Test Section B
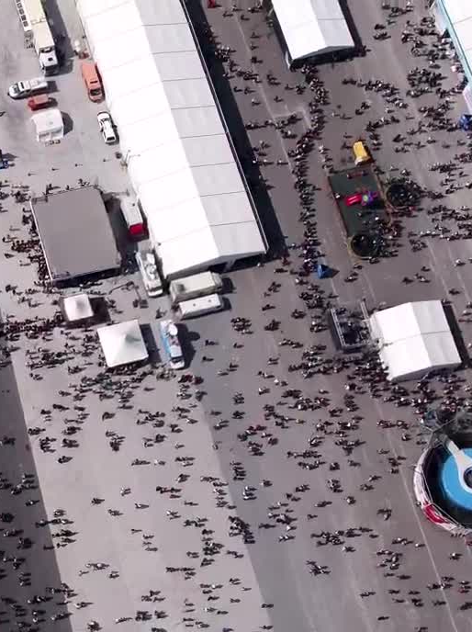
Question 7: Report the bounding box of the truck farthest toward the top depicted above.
[13,0,60,80]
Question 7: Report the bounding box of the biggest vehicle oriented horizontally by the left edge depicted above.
[10,80,48,100]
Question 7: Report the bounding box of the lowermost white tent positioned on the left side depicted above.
[95,321,148,372]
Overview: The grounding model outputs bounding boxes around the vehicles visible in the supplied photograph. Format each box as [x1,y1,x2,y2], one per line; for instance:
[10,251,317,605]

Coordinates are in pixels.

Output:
[156,321,185,372]
[83,64,105,105]
[13,0,60,80]
[28,94,52,111]
[121,195,145,239]
[139,251,165,298]
[170,272,222,299]
[177,295,222,321]
[10,80,48,100]
[99,115,116,145]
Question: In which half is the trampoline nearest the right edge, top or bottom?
top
